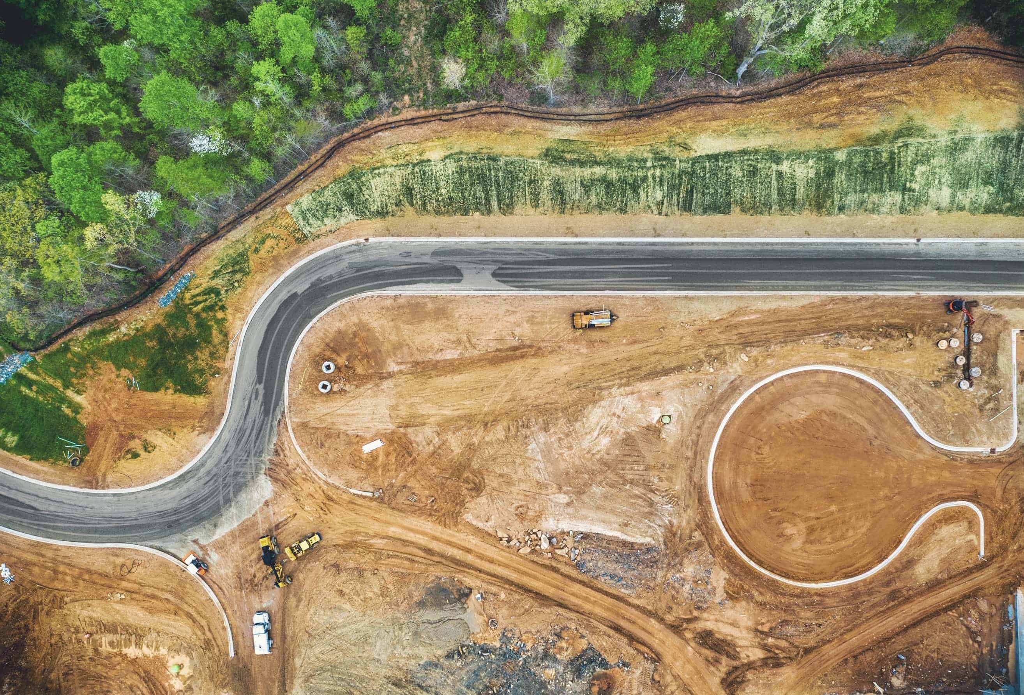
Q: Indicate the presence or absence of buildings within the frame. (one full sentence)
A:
No, there is no building in the image.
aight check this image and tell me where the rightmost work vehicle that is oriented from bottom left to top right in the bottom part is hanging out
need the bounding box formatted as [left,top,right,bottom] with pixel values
[286,529,326,560]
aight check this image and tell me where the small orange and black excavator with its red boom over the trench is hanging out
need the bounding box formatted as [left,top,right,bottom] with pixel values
[941,300,980,328]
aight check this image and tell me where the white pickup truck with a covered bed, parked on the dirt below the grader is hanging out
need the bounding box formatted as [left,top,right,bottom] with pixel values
[250,610,272,658]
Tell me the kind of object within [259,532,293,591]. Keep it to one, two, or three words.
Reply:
work vehicle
